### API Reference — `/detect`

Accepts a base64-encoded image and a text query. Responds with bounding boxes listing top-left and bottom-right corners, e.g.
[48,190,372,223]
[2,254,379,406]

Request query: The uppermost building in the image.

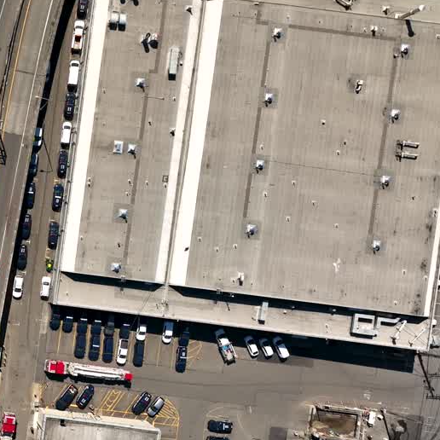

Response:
[46,0,440,351]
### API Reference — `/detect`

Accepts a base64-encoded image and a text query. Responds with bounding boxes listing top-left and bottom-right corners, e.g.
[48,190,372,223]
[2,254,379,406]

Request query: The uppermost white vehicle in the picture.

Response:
[69,20,85,55]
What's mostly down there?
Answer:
buildings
